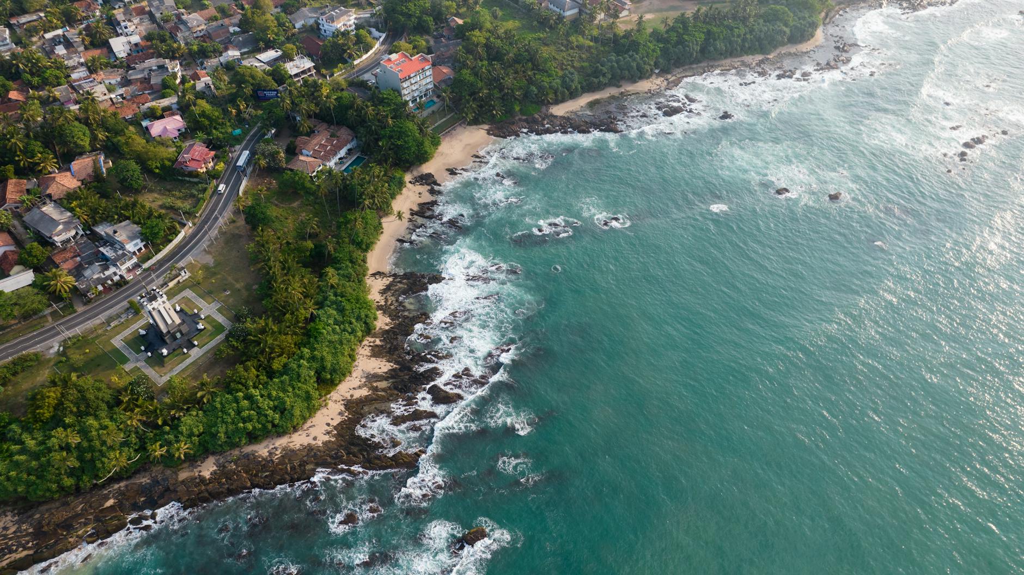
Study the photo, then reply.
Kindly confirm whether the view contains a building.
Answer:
Yes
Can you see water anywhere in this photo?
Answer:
Yes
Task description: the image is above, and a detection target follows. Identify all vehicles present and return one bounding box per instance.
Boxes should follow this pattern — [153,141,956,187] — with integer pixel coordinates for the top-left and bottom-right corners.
[233,148,250,172]
[217,185,225,194]
[366,78,376,84]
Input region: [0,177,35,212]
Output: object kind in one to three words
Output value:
house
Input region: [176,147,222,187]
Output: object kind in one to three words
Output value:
house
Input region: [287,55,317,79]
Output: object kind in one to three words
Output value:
building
